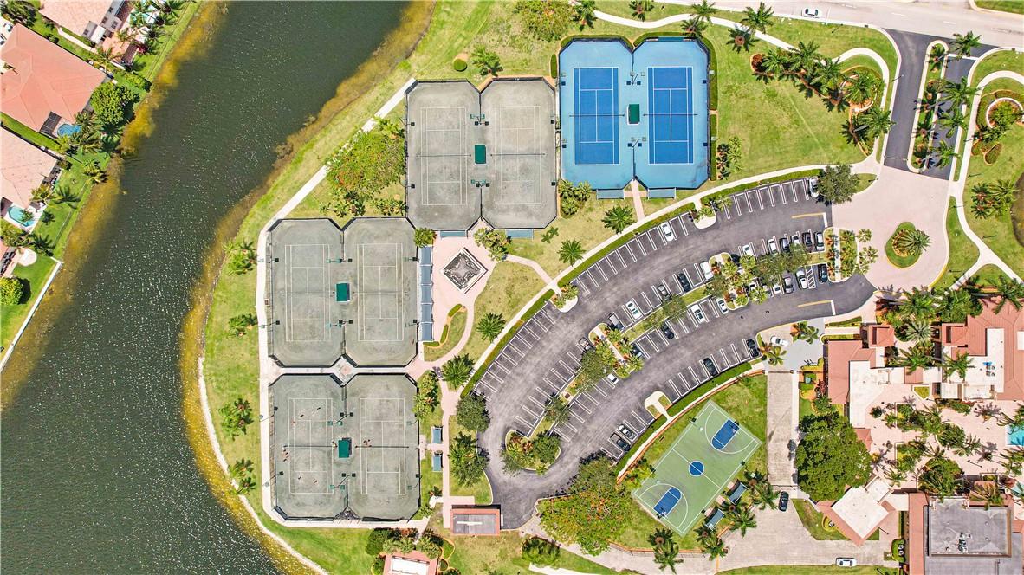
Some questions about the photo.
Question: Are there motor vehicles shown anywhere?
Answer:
Yes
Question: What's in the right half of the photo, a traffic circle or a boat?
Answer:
traffic circle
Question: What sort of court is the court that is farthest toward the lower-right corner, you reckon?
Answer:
basketball court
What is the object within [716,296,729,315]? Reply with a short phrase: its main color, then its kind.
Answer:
white vehicle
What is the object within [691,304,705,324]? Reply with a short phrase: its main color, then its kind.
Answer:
white car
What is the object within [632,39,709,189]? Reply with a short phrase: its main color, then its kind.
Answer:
blue tennis court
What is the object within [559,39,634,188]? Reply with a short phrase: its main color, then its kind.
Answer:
blue tennis court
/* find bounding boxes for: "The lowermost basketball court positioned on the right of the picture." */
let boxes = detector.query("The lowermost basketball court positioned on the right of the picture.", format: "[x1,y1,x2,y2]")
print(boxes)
[631,400,763,536]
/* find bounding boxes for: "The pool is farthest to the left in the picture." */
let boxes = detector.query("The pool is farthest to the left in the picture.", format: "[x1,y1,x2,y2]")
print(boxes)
[3,201,47,232]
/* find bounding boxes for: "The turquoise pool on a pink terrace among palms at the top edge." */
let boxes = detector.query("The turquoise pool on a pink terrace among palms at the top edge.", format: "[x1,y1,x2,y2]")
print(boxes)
[123,0,168,43]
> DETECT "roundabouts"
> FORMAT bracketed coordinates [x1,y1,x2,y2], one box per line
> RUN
[832,165,948,295]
